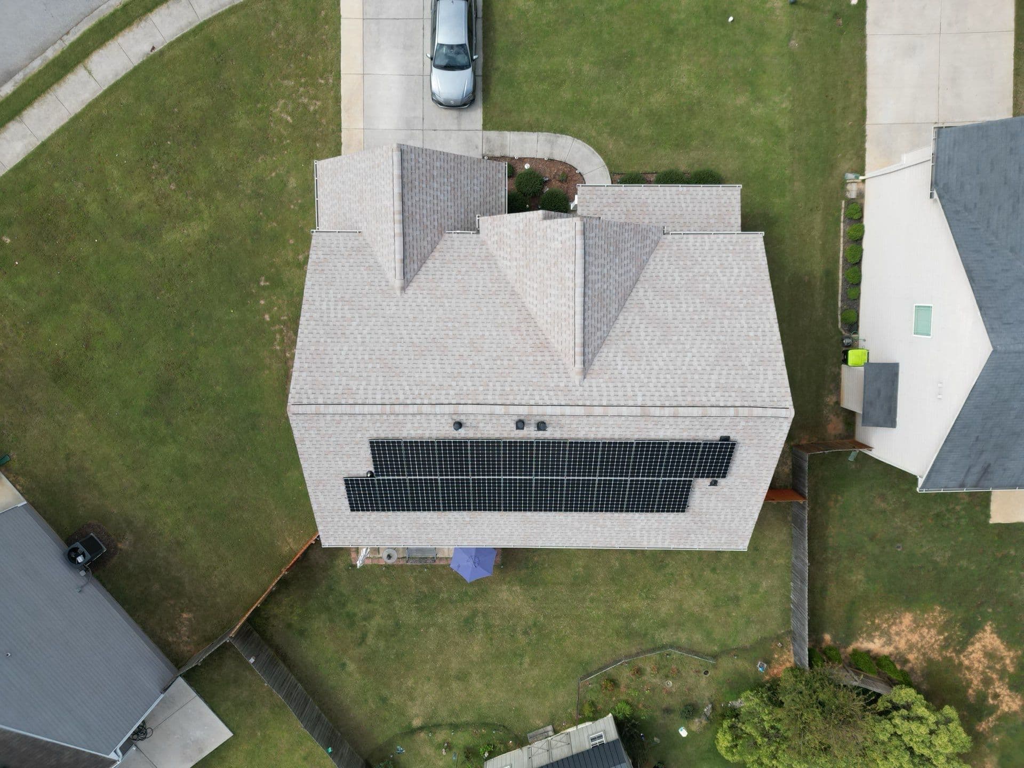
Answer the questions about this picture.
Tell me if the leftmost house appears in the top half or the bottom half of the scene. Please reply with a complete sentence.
Seen from above, the leftmost house lies in the bottom half of the view.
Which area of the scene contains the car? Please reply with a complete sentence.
You can find the car in the top area of the picture.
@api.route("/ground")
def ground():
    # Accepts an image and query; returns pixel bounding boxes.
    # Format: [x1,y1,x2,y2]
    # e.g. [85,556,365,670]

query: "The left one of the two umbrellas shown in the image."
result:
[354,551,374,568]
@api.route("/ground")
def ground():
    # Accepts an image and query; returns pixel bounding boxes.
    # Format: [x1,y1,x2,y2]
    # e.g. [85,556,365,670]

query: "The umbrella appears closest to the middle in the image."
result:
[451,552,497,582]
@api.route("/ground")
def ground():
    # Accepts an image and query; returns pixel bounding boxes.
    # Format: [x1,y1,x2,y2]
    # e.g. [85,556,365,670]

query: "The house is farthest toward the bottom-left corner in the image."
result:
[0,502,182,768]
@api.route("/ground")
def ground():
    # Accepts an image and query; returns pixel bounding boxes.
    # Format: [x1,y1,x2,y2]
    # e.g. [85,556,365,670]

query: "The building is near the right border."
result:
[840,116,1024,494]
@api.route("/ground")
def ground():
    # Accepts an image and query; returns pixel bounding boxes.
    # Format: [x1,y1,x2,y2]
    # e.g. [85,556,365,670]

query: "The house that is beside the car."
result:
[287,145,794,554]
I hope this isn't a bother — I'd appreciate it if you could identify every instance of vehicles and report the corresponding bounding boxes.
[424,0,481,112]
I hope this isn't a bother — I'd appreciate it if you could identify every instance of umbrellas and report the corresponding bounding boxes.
[354,551,374,568]
[451,552,497,582]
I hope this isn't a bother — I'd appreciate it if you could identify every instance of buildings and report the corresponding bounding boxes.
[476,714,631,768]
[0,502,182,768]
[840,116,1024,494]
[287,145,794,554]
